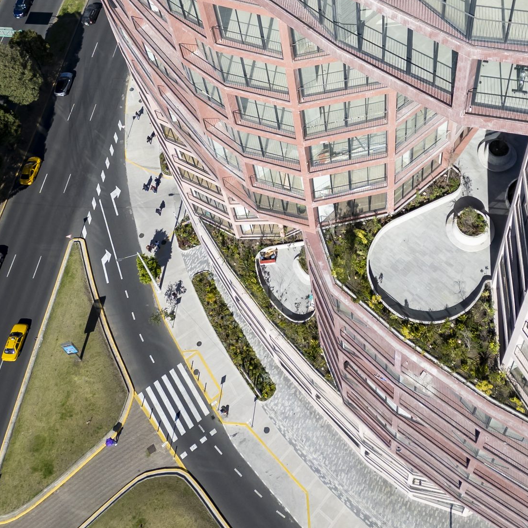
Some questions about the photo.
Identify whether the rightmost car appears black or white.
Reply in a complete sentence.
The rightmost car looks black in the image.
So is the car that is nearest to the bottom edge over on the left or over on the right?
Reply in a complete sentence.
The car that is nearest to the bottom edge appears in the left half of the scene.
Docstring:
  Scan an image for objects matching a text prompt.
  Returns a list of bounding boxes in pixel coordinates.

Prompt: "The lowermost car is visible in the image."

[0,323,30,362]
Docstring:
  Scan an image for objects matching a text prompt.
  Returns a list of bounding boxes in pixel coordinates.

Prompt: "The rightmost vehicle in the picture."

[79,2,99,22]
